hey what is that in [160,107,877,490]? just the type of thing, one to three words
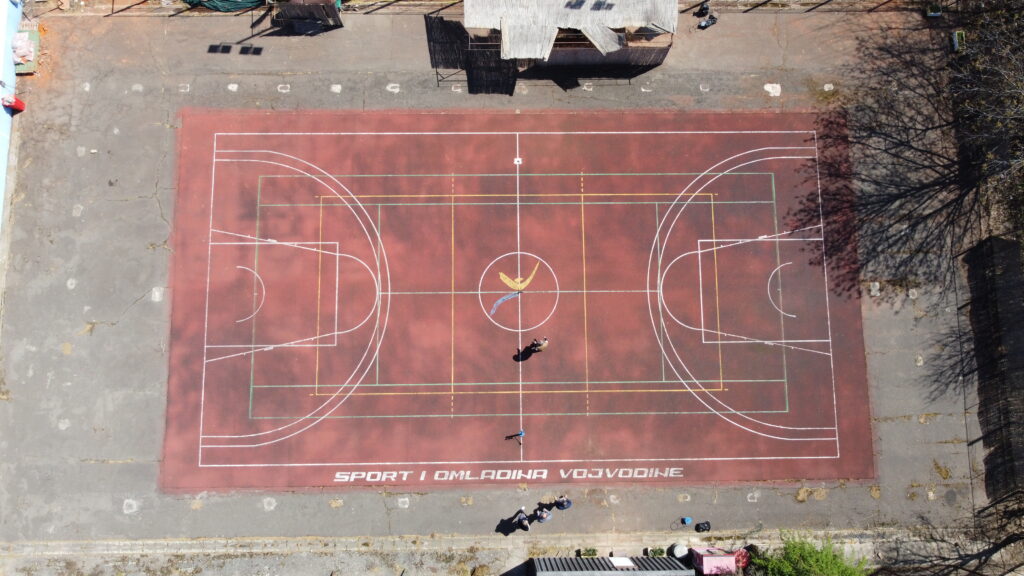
sports court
